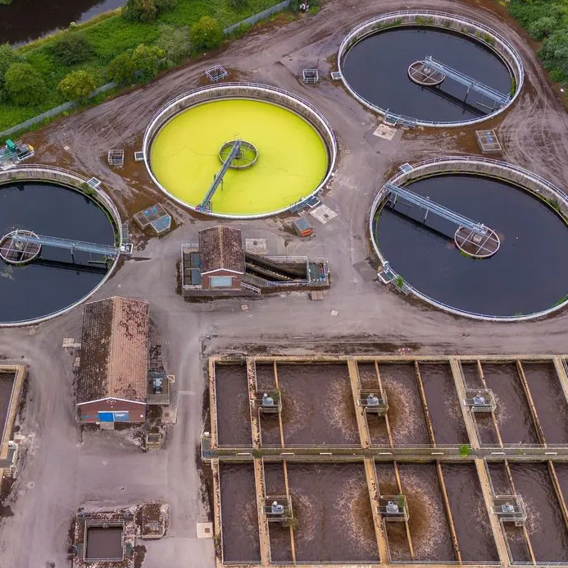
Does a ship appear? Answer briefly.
No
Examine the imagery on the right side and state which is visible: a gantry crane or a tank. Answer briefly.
tank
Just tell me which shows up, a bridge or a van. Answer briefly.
bridge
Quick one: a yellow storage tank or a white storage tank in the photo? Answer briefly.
yellow storage tank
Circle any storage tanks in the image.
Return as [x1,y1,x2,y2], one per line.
[141,81,338,220]
[371,157,568,324]
[0,164,129,328]
[338,10,525,129]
